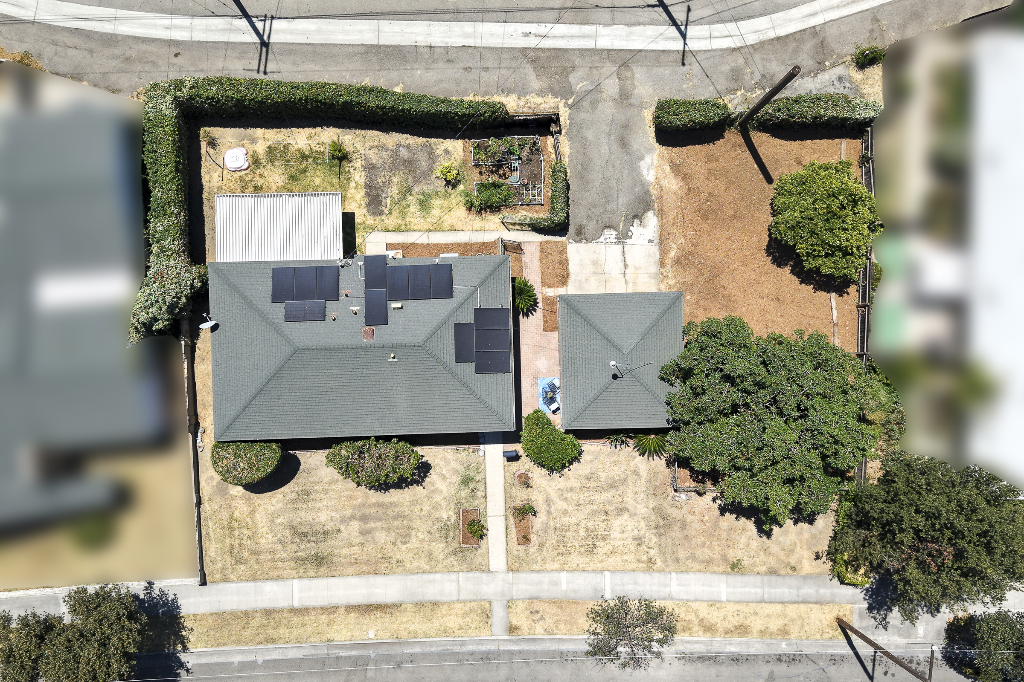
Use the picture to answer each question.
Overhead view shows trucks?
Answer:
No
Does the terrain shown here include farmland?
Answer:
No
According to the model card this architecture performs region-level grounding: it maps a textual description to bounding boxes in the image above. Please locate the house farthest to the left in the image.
[0,113,174,520]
